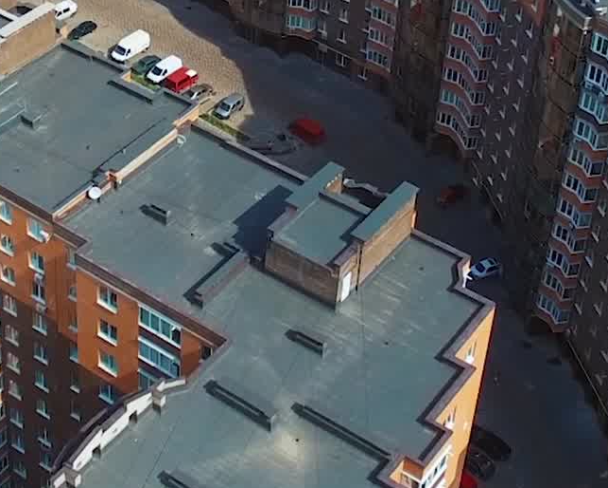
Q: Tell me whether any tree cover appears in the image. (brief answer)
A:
No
